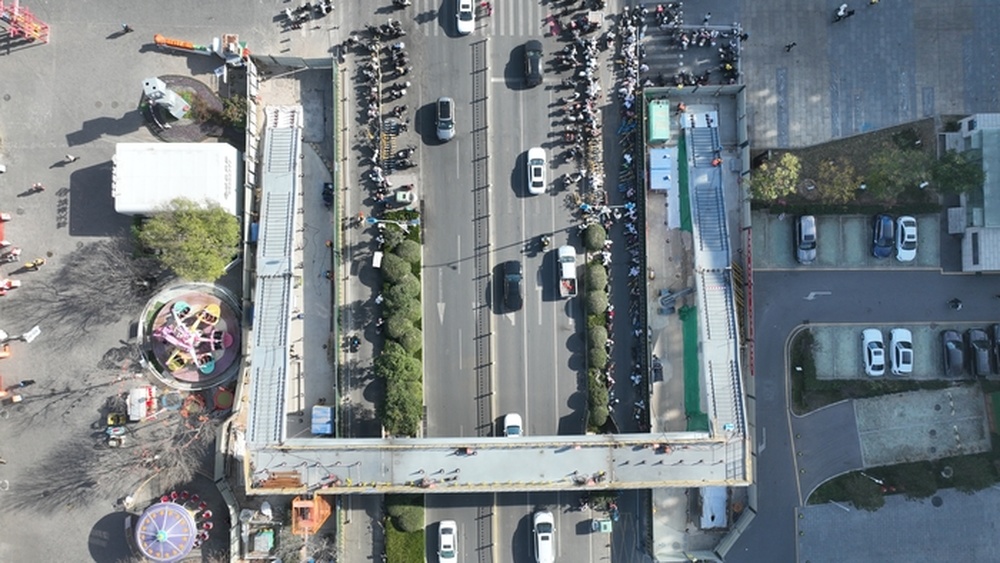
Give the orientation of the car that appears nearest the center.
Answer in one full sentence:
What the image shows is the car that appears nearest the center lying vertically.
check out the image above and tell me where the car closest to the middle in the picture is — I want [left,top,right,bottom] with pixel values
[501,261,524,313]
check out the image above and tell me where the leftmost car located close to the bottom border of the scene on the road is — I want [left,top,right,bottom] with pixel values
[436,518,459,563]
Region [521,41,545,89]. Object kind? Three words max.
car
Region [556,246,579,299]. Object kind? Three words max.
vehicle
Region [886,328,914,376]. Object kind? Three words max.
car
